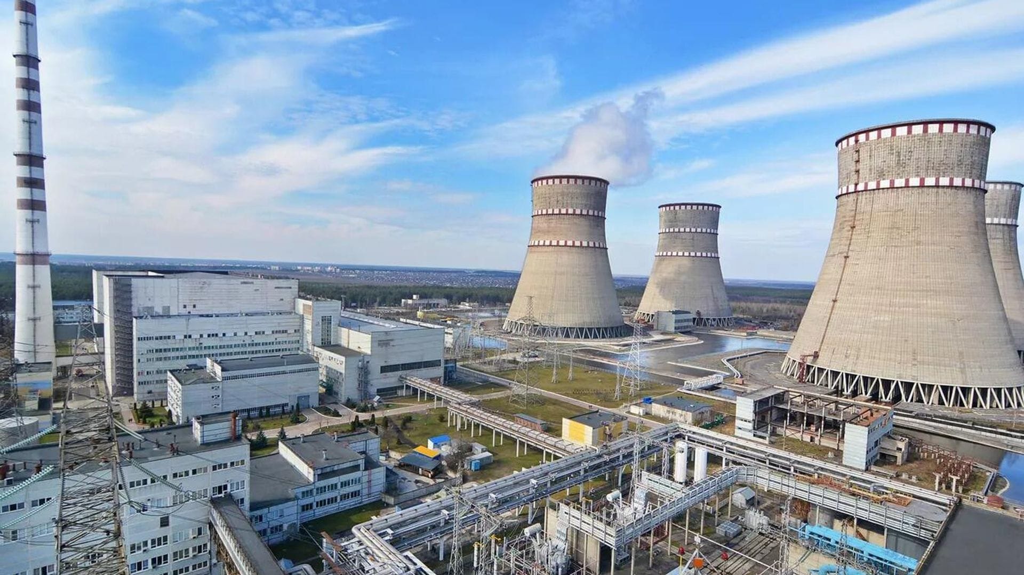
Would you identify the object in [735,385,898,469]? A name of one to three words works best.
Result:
building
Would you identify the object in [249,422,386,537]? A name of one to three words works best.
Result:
building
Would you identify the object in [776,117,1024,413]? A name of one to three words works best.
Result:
cooling tower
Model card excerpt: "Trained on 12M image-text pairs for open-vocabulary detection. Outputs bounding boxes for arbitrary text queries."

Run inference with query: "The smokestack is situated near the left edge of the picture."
[9,0,55,373]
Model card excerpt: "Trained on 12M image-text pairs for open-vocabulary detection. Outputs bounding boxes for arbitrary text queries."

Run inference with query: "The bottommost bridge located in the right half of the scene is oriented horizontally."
[681,371,734,392]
